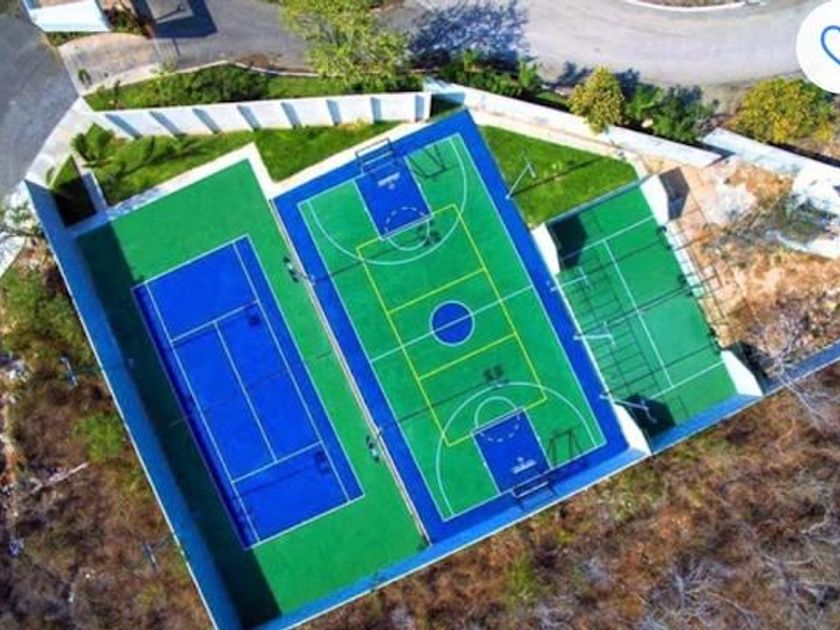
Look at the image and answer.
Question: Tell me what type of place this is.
sports ground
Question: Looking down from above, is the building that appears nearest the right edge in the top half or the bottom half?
top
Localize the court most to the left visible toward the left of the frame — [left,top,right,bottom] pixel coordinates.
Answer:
[72,161,423,630]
